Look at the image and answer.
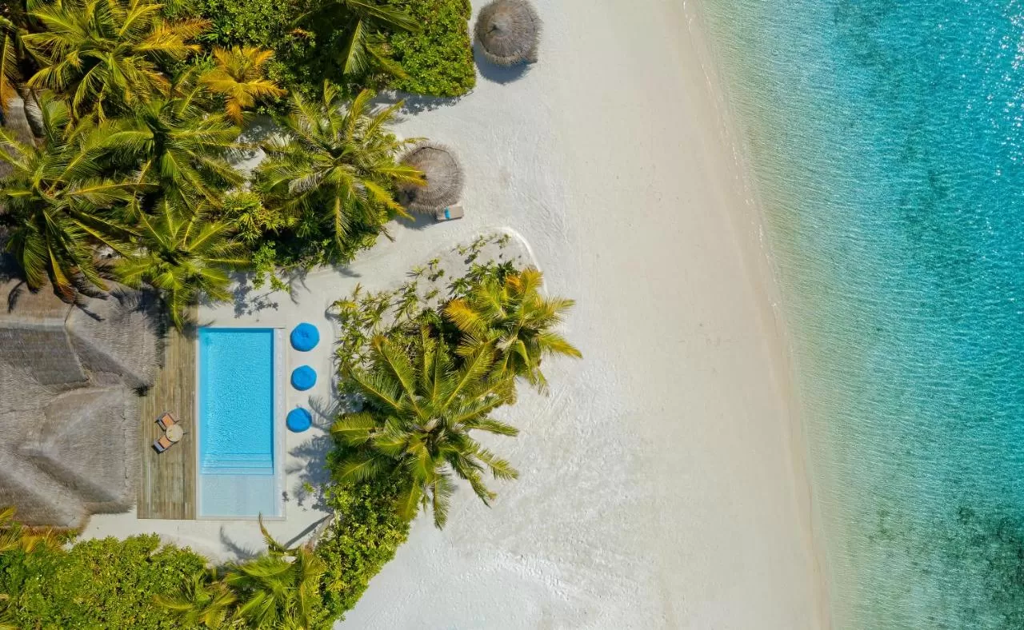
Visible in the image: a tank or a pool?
pool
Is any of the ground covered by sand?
Yes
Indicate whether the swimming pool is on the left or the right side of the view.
left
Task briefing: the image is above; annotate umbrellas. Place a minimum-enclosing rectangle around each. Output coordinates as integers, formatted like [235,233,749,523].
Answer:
[400,146,468,215]
[476,0,543,67]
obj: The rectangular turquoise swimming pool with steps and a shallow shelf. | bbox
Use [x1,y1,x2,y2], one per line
[195,324,286,521]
